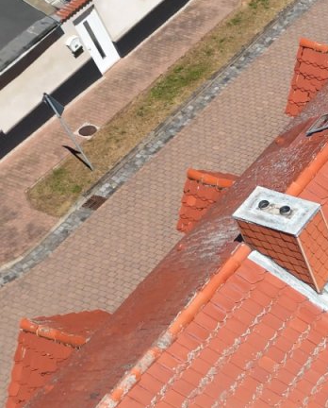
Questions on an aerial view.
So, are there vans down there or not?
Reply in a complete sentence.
No, the picture doesn't show any van.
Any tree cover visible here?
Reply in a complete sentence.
No, there's no tree cover in this view.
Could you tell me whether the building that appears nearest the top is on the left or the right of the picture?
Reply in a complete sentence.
The building that appears nearest the top sits on the left side.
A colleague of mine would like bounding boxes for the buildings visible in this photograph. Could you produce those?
[0,4,65,80]
[9,28,328,408]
